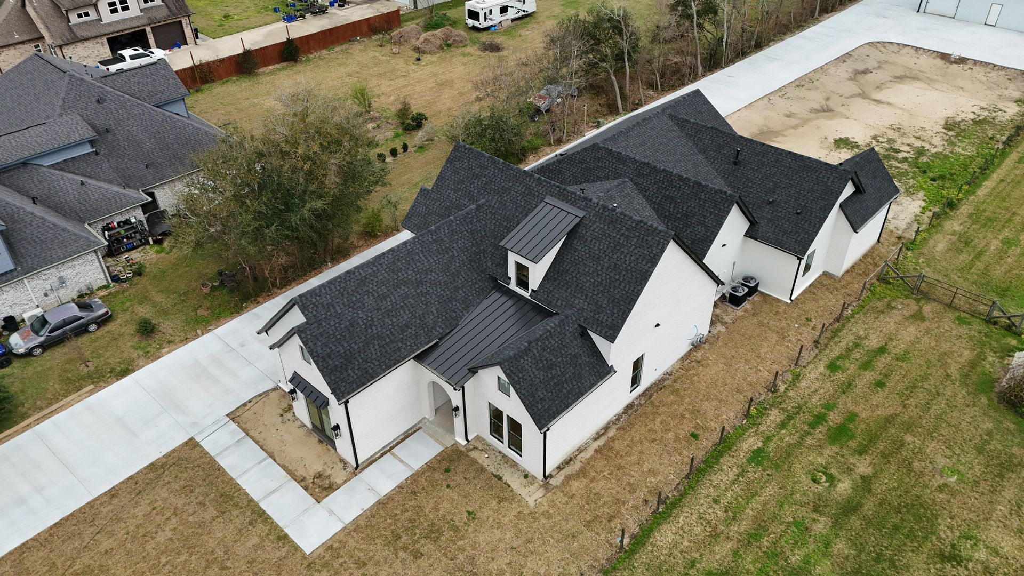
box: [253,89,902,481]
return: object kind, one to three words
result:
house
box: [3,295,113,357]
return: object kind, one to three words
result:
car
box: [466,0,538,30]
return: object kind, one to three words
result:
trailer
